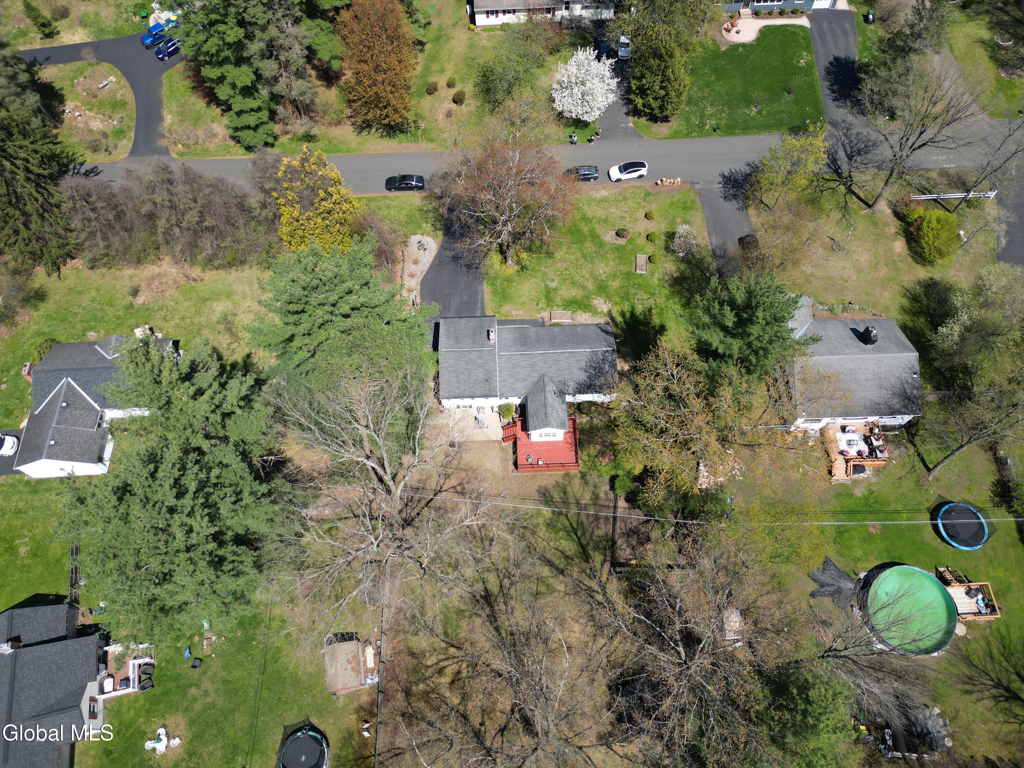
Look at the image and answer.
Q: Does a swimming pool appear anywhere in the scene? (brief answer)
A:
Yes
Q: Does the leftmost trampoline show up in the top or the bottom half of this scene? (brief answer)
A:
bottom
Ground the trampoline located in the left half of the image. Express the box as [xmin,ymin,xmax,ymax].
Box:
[266,722,332,768]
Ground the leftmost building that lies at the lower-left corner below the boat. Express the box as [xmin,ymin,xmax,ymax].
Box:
[0,604,108,768]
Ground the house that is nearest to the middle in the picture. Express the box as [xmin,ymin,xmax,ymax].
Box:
[439,316,619,437]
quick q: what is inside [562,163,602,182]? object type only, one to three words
car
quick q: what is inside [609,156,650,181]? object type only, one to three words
car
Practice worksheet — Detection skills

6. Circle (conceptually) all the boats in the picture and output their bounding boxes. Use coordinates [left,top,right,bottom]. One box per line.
[13,414,29,434]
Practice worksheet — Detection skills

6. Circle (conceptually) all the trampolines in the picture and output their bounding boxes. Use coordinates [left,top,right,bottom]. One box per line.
[266,722,332,768]
[933,493,1005,554]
